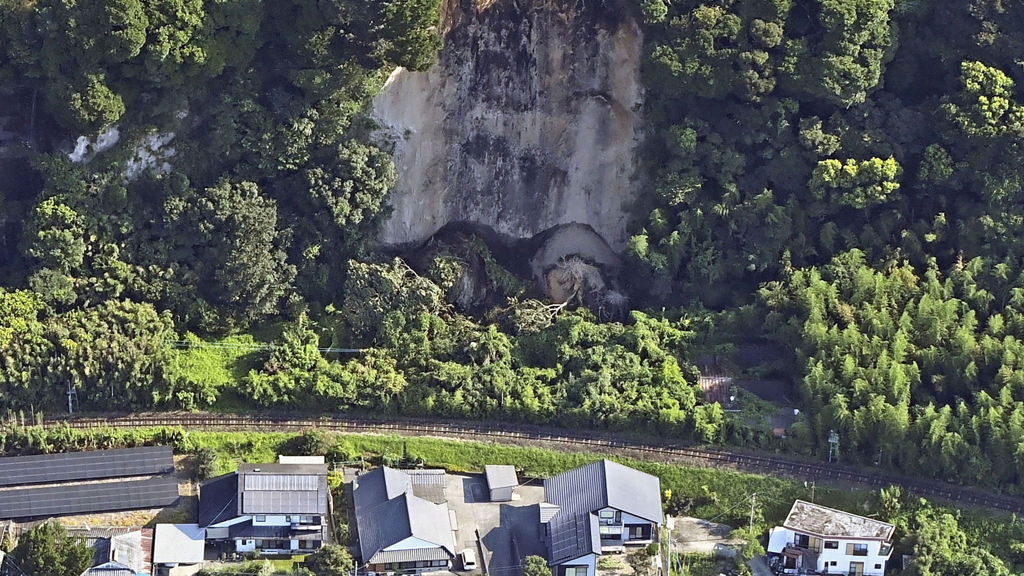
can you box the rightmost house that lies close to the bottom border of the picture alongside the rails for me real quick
[767,500,902,576]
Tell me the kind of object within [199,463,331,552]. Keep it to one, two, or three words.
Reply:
house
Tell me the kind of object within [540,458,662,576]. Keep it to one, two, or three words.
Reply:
house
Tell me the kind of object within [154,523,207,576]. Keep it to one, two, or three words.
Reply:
building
